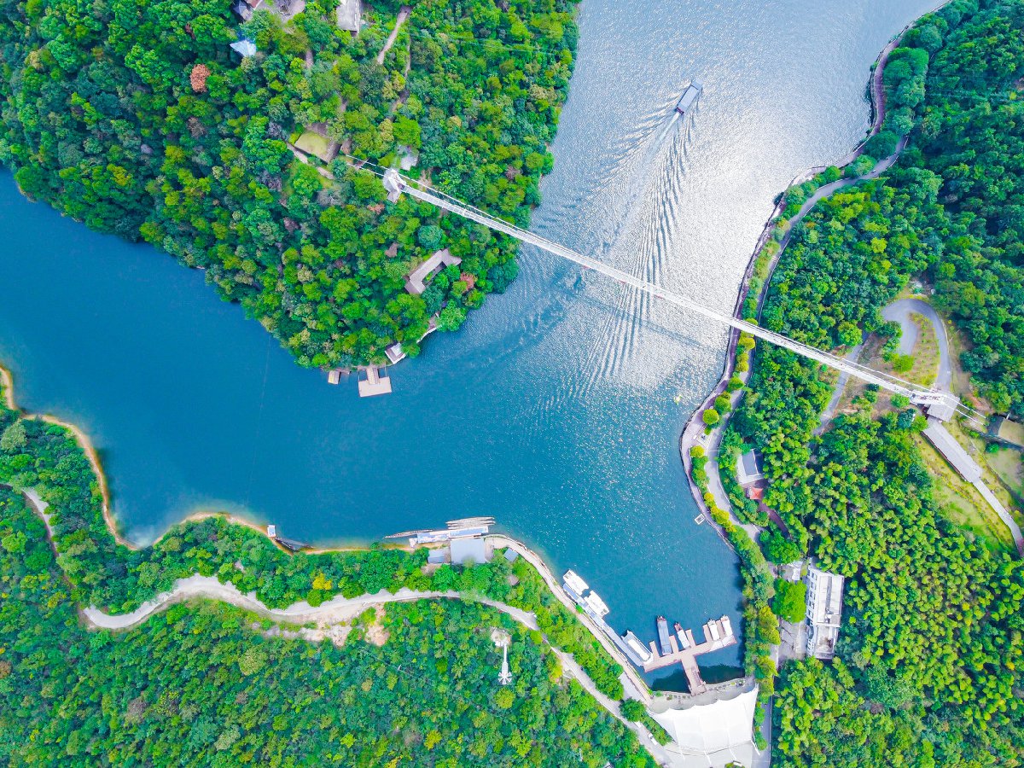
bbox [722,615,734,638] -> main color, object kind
white boat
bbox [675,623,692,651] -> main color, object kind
white boat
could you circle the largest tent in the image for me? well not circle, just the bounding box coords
[652,682,759,766]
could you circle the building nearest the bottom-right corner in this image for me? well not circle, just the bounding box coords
[805,567,845,659]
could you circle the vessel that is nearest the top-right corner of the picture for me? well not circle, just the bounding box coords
[677,76,706,112]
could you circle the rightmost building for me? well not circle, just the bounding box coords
[984,418,1024,447]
